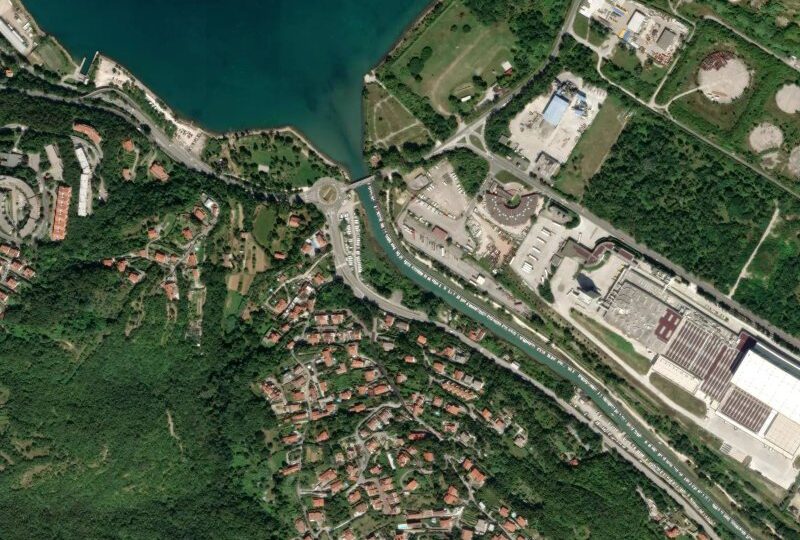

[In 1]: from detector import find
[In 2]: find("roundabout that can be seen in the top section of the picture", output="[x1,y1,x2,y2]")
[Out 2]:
[300,176,348,214]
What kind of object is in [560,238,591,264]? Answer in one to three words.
building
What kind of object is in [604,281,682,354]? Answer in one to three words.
building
